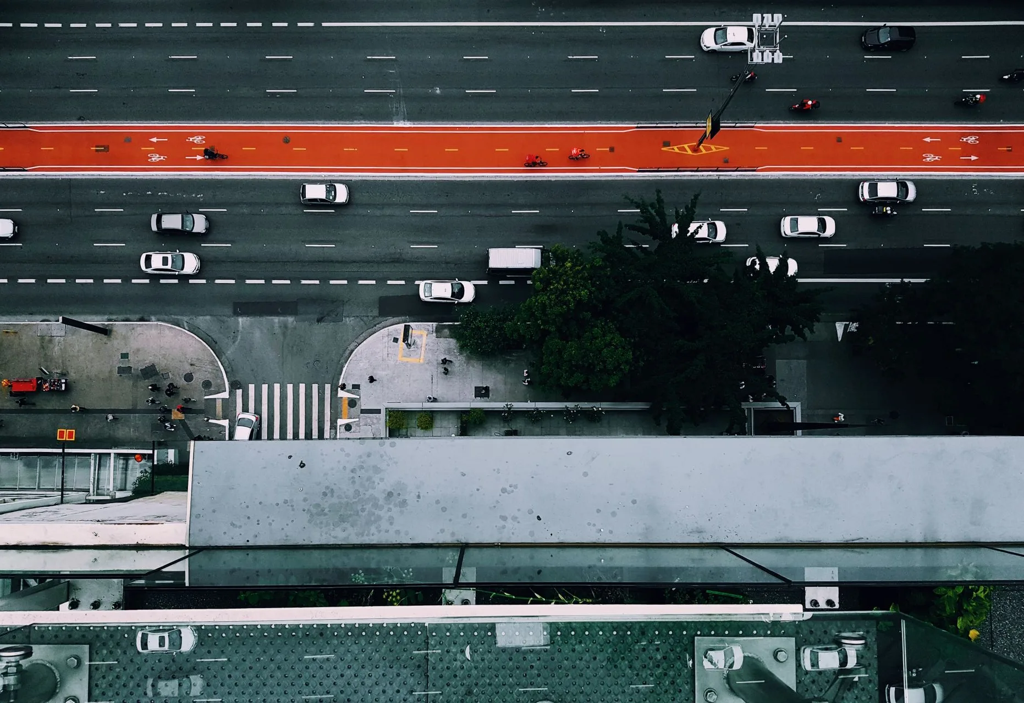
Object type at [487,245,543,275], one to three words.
van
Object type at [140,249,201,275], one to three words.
car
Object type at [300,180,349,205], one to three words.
car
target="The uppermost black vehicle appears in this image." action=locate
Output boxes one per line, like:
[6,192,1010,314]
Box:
[861,24,916,52]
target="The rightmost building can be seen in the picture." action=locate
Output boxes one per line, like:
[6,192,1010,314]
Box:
[185,435,1024,563]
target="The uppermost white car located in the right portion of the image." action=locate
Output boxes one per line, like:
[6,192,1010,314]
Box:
[700,25,755,52]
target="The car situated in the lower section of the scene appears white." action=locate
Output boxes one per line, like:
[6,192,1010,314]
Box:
[231,411,259,440]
